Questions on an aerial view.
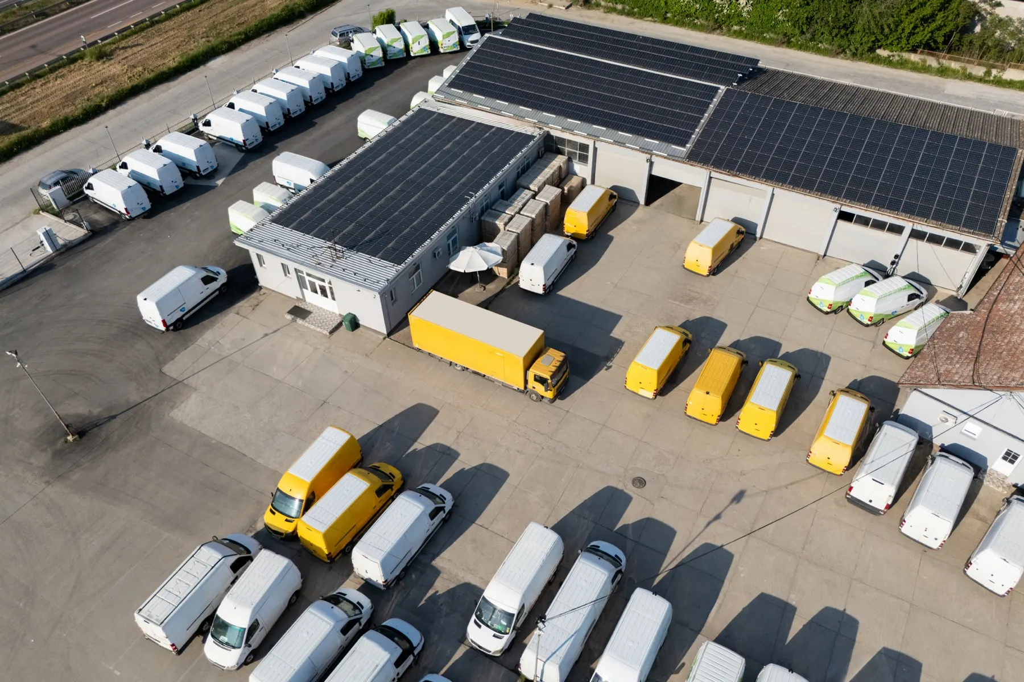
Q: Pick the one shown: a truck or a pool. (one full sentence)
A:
It is a truck that can be seen here.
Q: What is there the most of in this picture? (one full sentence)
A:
The largest share of the image is taken up by paved ground.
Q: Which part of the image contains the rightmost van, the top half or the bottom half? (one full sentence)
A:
You can find the rightmost van in the bottom half.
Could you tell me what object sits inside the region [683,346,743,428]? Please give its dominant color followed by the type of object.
yellow van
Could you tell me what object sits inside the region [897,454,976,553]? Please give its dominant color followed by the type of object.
white van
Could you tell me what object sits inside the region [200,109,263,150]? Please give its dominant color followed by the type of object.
white van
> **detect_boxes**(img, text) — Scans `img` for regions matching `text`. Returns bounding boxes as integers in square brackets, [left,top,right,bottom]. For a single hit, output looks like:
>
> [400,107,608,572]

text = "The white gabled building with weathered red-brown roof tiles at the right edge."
[897,241,1024,498]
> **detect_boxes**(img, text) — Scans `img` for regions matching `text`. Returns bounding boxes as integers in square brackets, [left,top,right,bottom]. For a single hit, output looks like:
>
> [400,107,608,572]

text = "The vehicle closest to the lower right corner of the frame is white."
[962,494,1024,600]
